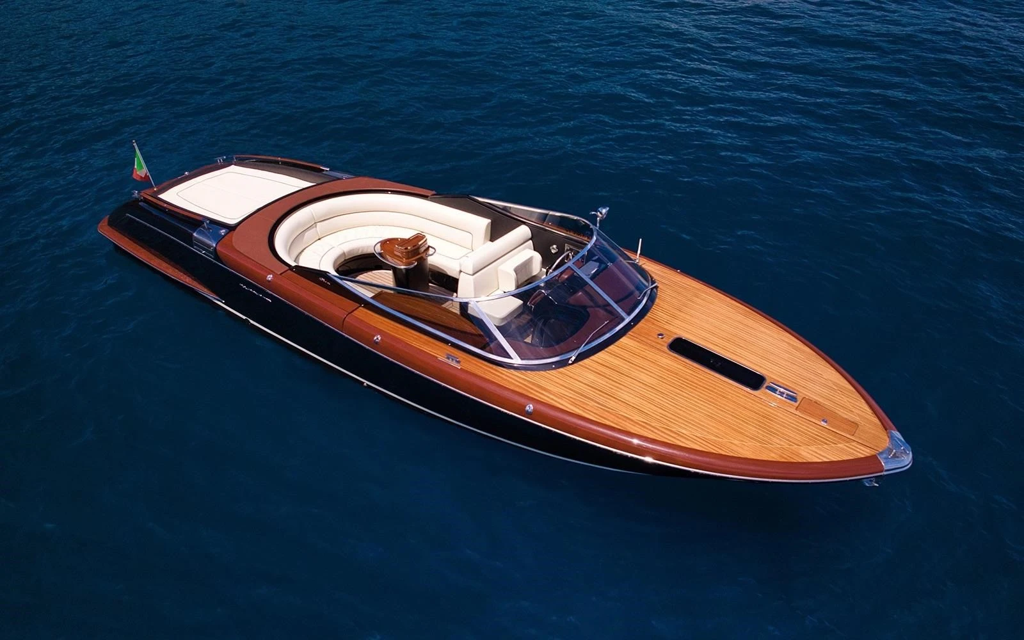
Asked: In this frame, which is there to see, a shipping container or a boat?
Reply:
boat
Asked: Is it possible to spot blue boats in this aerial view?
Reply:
No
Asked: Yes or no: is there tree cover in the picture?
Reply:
No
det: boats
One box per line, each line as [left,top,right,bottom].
[98,149,915,494]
